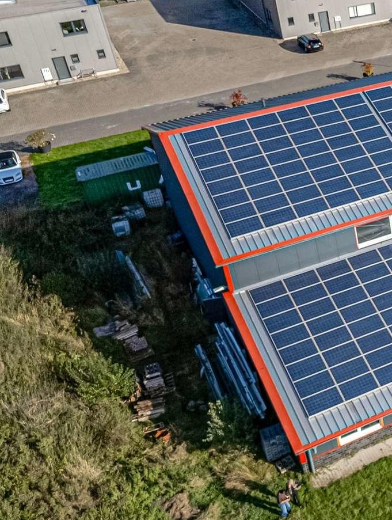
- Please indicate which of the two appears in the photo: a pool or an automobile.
automobile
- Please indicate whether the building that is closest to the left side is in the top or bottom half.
top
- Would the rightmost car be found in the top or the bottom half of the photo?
top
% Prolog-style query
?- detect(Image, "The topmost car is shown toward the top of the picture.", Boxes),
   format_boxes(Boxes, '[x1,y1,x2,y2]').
[295,32,322,53]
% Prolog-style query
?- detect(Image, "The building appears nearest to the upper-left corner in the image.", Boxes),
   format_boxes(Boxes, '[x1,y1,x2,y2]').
[0,0,120,94]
